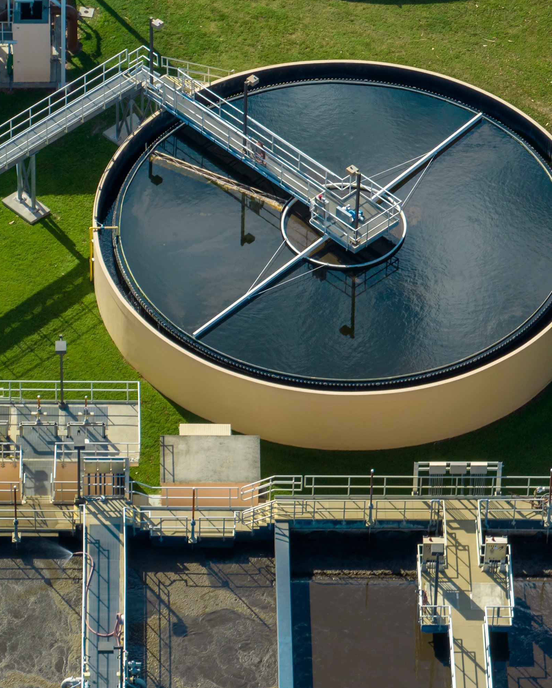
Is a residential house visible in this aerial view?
No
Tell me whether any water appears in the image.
Yes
